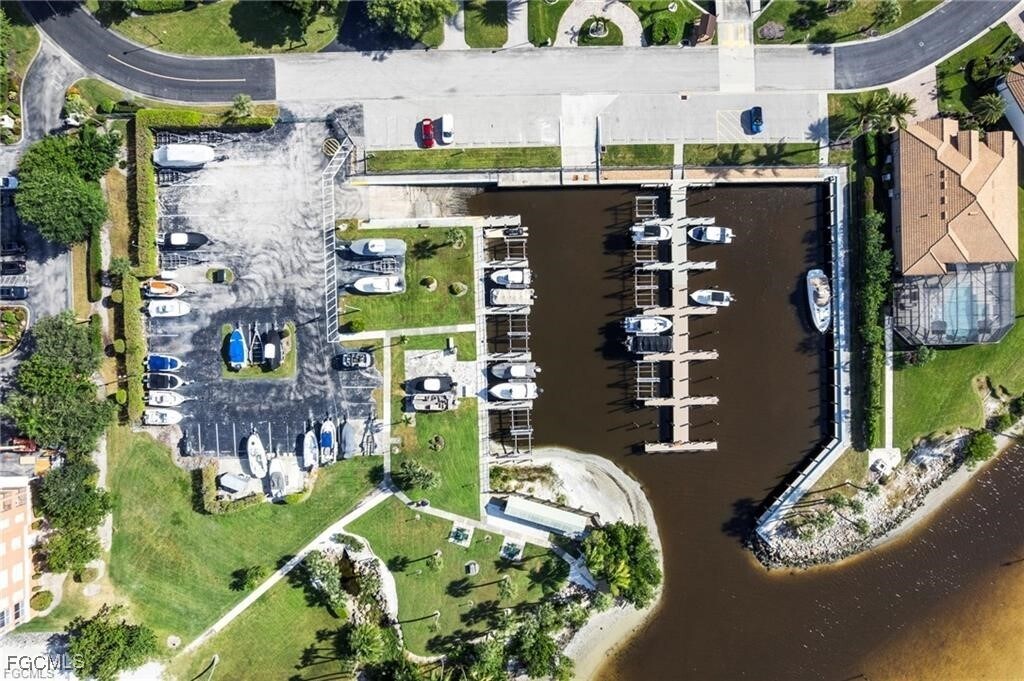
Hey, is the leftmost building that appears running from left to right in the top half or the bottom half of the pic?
bottom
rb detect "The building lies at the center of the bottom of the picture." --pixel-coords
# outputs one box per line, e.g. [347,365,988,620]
[504,496,587,533]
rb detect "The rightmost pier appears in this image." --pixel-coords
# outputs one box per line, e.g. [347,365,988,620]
[756,187,841,533]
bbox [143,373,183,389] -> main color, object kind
black boat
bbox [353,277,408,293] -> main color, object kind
white boat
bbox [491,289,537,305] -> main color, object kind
white boat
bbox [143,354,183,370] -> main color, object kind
blue boat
